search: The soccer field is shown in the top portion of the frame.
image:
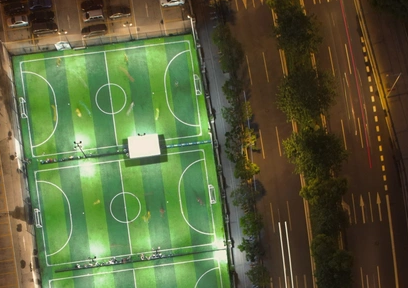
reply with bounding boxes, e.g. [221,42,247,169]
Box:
[11,34,205,165]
